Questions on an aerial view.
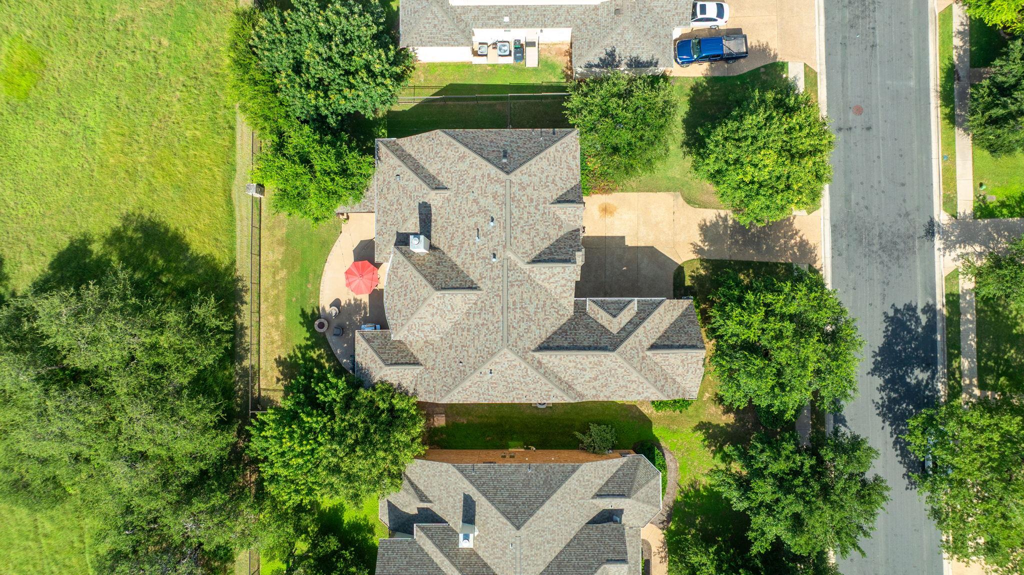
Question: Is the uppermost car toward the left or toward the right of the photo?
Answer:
right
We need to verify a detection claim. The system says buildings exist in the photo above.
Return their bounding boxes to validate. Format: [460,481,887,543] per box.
[375,450,663,575]
[399,0,690,80]
[331,127,706,405]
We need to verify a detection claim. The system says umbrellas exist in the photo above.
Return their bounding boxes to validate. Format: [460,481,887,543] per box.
[346,260,380,294]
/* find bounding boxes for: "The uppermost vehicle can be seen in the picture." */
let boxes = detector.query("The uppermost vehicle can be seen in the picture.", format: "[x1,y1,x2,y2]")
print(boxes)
[690,1,730,31]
